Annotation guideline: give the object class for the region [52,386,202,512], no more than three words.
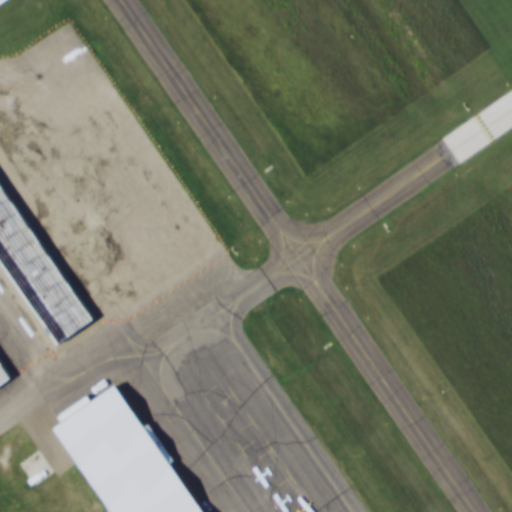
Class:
hangar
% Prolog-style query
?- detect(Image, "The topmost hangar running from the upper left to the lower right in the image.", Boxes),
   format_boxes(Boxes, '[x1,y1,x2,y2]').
[0,186,92,343]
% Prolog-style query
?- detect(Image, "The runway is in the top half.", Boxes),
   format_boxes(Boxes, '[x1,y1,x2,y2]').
[444,90,512,164]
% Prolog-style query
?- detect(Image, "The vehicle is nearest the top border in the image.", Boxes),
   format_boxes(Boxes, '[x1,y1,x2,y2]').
[62,46,88,64]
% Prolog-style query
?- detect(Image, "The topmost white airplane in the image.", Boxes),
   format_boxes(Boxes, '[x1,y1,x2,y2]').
[254,467,273,488]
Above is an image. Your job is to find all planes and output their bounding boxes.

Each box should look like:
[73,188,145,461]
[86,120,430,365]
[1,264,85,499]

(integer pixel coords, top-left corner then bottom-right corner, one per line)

[274,494,293,512]
[254,467,273,488]
[298,498,317,512]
